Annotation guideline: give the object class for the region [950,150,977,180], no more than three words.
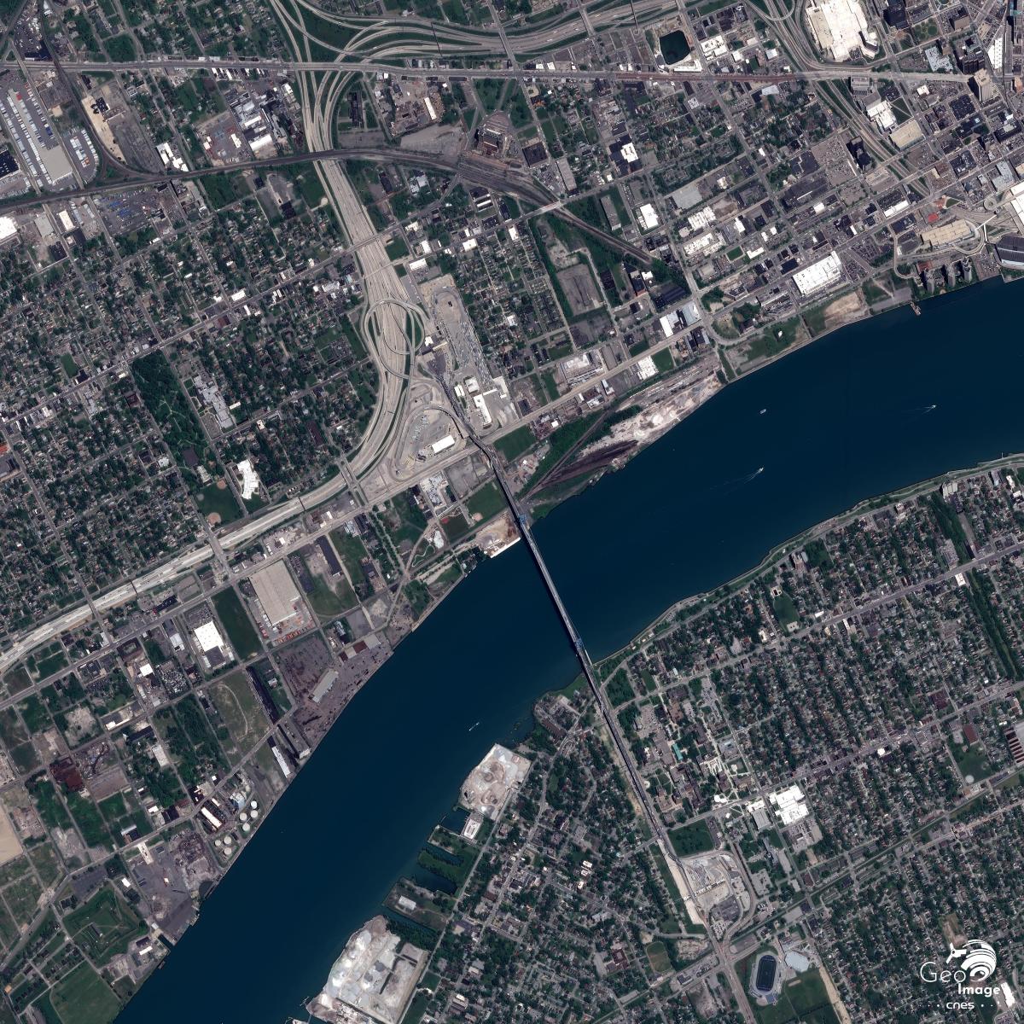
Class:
building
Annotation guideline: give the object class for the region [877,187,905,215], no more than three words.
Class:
building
